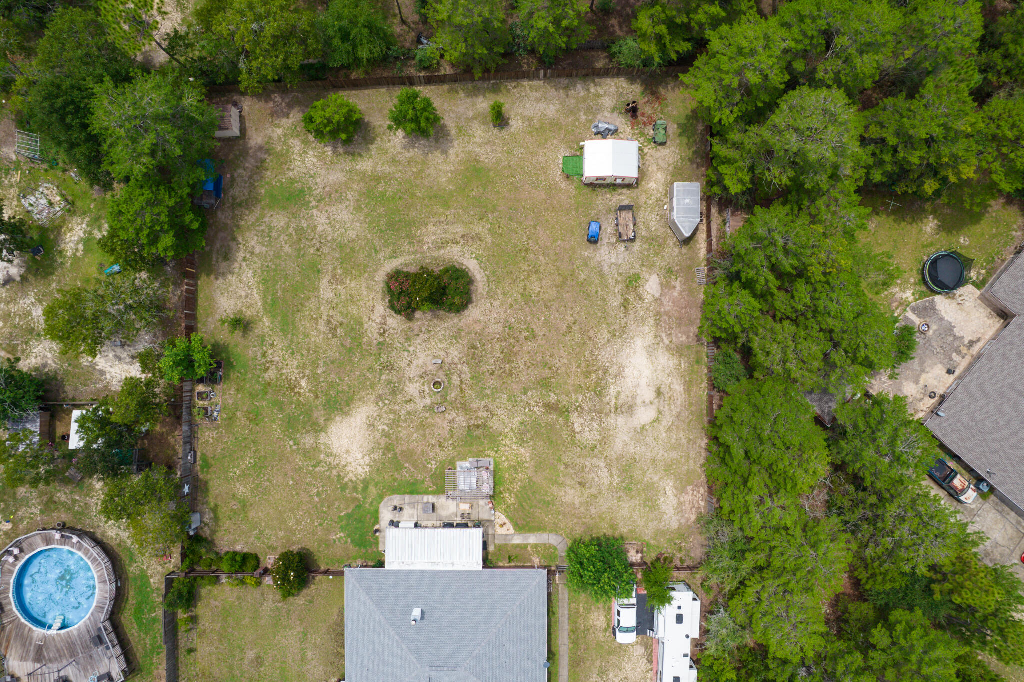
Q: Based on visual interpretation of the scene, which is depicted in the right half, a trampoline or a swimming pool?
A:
trampoline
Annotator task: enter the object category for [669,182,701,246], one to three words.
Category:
trailer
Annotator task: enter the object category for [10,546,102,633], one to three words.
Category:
swimming pool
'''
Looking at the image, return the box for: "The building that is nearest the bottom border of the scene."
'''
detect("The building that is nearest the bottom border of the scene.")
[344,563,550,682]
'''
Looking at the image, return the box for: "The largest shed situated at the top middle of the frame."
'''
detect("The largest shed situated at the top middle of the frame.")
[577,138,643,184]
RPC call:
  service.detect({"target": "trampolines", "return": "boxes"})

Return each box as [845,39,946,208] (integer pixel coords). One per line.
[920,248,977,295]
